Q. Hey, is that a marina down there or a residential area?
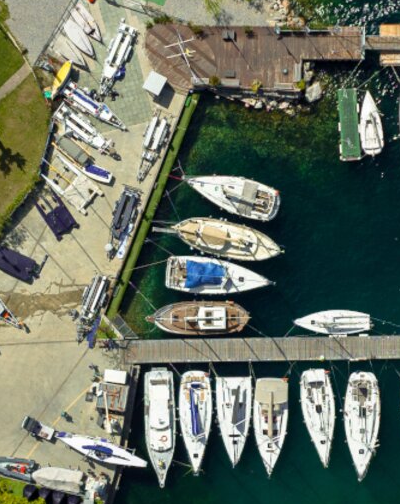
marina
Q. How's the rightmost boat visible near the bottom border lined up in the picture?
up and down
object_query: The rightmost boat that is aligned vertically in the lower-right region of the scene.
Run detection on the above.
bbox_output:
[340,361,381,485]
